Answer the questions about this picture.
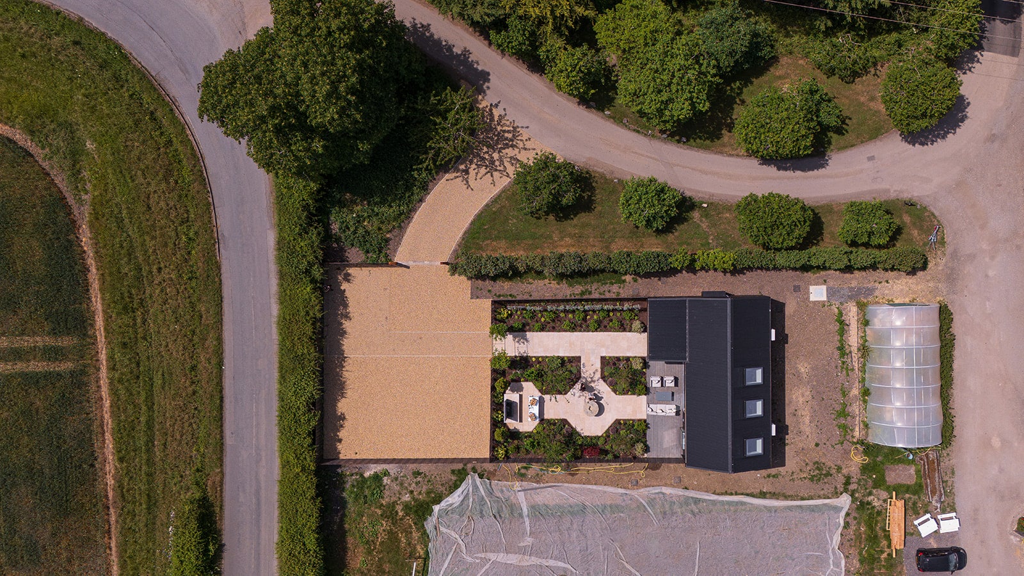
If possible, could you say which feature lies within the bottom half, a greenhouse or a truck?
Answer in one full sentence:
Looking within the bottom half, you will find a greenhouse.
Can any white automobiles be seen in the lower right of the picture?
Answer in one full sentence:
No, I see no white automobile in the lower right of the picture.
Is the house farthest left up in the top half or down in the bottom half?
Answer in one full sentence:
The house farthest left is in the bottom half of the image.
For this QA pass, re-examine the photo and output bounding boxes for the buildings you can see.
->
[644,289,777,475]
[866,305,941,446]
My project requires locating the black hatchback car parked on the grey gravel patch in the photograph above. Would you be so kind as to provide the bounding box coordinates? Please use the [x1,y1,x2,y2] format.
[913,544,965,574]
